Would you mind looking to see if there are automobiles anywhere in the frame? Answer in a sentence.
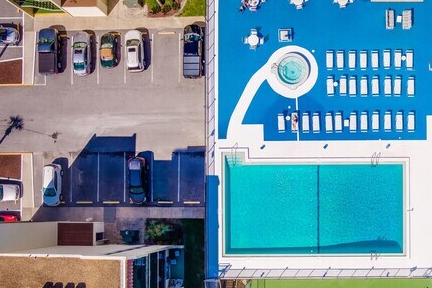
Yes, you can see an automobile in this photo.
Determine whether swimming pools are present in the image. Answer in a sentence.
Yes, the picture does show a swimming pool.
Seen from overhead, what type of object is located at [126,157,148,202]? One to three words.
car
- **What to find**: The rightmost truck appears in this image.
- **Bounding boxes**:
[180,23,202,80]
